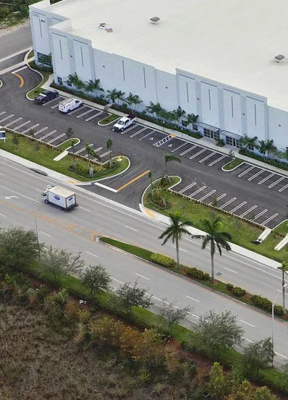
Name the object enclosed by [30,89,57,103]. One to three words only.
vehicle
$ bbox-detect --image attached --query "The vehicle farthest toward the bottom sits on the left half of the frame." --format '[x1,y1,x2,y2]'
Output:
[41,181,77,206]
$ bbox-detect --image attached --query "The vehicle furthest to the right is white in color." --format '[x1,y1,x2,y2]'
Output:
[112,115,138,132]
